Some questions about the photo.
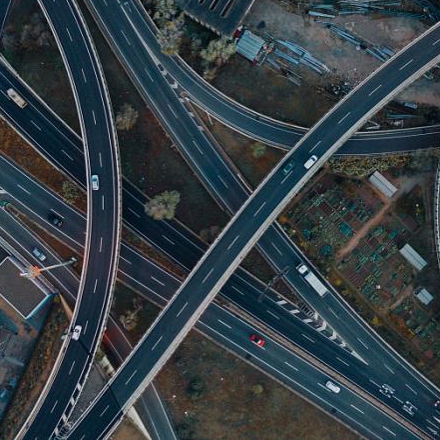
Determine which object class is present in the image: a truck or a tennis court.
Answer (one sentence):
Of the two, only a truck appears.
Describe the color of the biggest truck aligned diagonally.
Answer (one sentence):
In this view, the biggest truck aligned diagonally is white.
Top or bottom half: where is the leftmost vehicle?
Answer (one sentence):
The top half of the photo is where the leftmost vehicle is.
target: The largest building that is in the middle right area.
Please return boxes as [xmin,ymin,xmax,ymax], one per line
[399,244,428,271]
